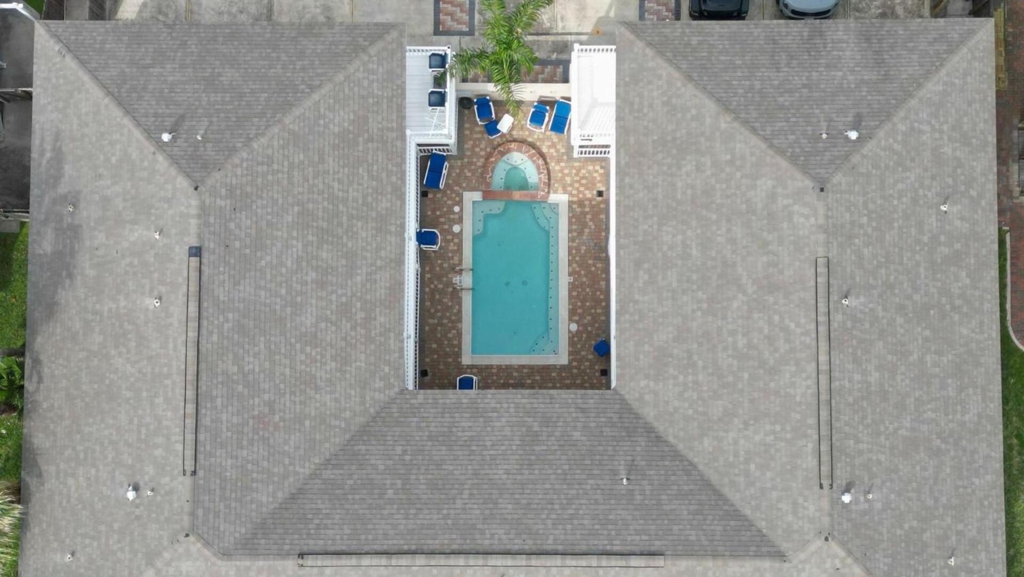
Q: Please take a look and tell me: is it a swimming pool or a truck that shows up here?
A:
swimming pool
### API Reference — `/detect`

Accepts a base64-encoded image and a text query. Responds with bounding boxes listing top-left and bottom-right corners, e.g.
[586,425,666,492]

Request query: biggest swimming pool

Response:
[462,192,568,364]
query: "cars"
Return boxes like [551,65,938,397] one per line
[773,0,835,20]
[685,0,748,21]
